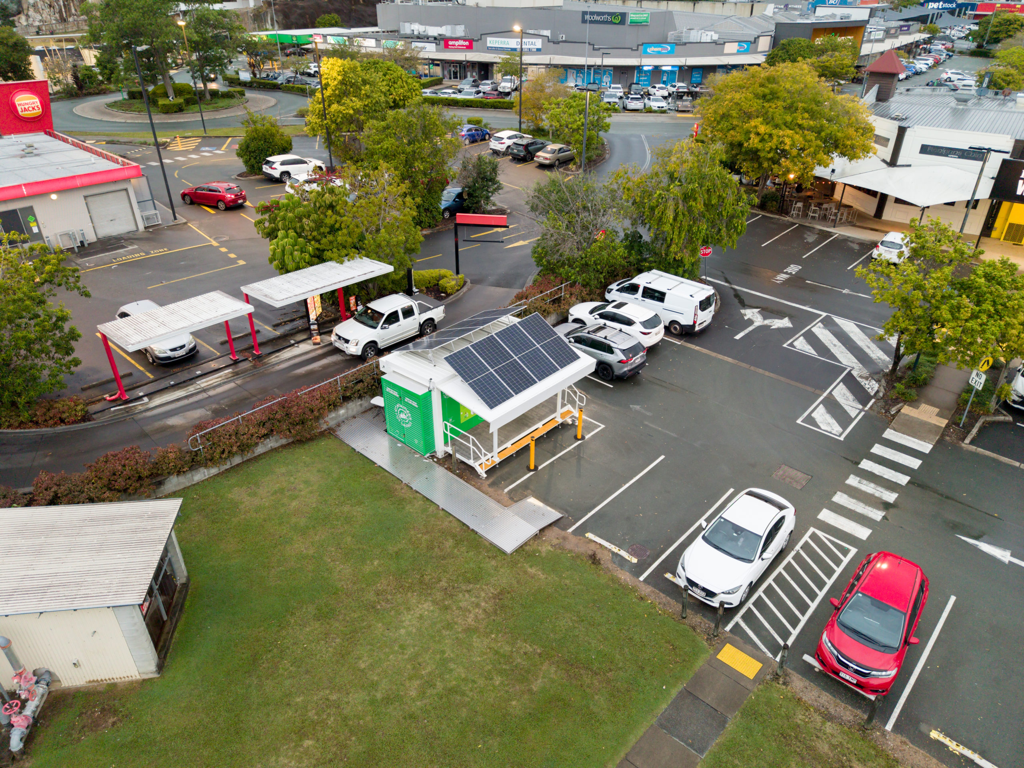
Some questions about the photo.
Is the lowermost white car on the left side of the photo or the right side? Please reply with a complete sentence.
It is on the right.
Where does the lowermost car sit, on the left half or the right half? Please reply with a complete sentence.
It is on the right.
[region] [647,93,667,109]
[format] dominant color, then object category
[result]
white car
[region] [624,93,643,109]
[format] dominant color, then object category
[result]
white car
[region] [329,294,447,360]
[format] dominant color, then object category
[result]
white truck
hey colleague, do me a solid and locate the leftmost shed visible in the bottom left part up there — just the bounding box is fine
[0,497,201,697]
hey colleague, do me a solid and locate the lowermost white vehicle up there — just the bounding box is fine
[678,490,804,612]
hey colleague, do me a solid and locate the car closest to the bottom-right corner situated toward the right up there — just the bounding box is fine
[816,557,928,702]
